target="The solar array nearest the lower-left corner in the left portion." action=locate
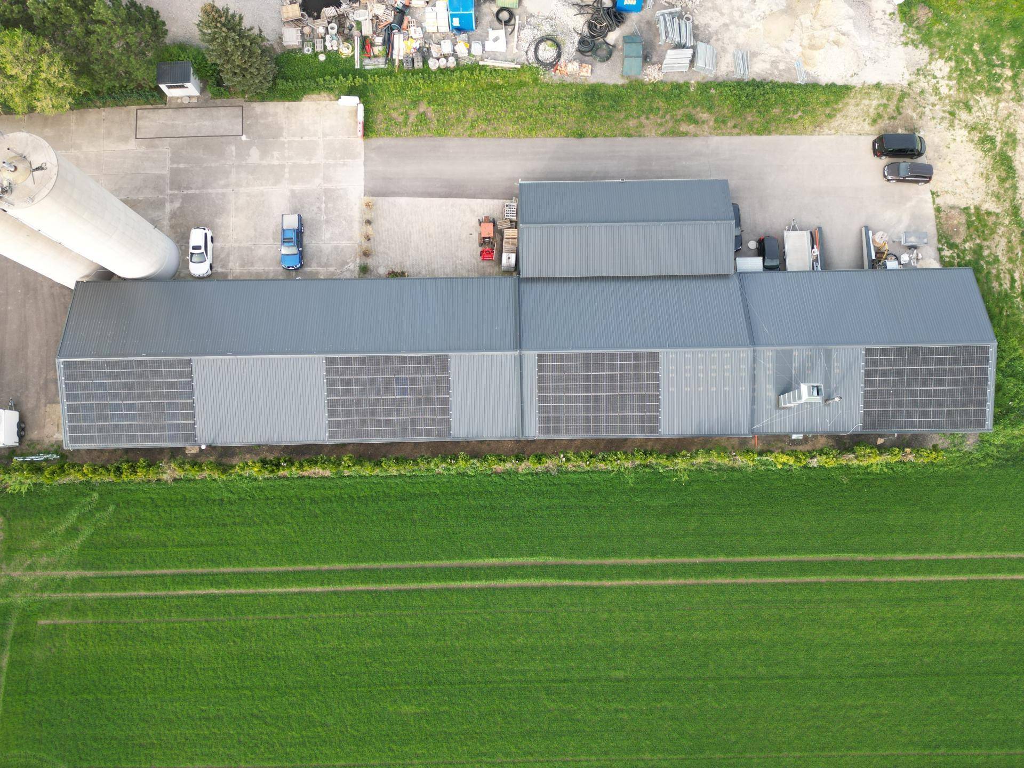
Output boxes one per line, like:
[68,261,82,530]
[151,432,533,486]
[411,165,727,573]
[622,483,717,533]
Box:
[57,357,197,446]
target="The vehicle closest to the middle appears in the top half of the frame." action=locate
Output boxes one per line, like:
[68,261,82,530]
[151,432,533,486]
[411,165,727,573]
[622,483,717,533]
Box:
[478,215,496,255]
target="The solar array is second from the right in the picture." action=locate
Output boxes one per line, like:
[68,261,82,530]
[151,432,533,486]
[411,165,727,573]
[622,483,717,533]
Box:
[535,349,663,438]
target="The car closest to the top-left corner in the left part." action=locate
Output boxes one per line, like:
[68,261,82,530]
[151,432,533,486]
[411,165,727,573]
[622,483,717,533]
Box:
[187,225,214,276]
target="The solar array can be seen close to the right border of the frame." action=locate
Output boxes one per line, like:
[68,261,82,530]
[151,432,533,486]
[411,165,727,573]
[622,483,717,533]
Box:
[862,343,995,431]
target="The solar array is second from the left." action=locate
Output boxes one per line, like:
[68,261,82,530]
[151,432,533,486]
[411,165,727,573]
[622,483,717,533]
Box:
[322,352,453,442]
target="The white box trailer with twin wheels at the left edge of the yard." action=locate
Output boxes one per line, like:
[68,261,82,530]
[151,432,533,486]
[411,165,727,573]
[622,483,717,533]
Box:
[0,395,24,445]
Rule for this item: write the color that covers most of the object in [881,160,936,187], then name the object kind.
gray car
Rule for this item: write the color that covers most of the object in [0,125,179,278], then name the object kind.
white silo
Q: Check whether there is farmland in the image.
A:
Yes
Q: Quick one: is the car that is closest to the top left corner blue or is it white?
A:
white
